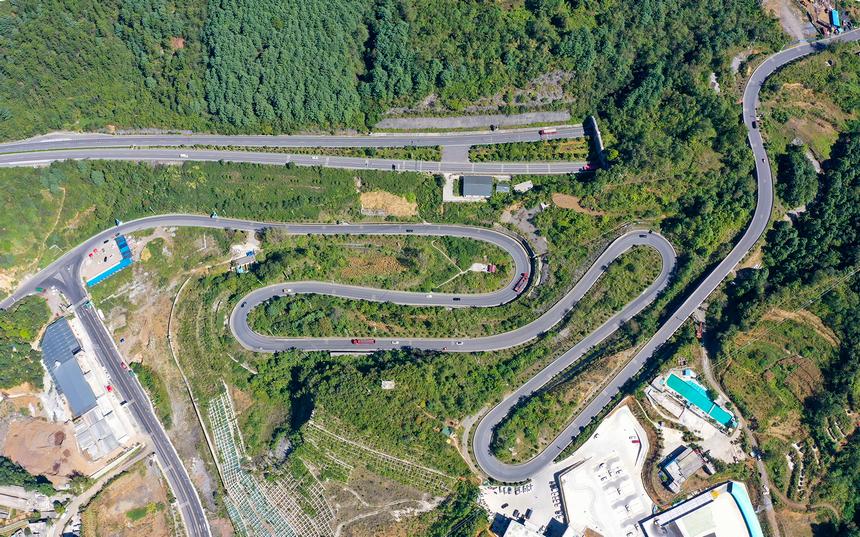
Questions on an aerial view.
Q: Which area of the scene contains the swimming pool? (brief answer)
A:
bottom right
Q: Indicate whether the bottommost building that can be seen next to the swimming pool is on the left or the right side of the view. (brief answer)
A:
right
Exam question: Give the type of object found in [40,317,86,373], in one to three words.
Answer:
shed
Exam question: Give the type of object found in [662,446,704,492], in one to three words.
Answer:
house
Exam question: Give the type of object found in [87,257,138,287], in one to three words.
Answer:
building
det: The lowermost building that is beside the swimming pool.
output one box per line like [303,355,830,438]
[638,477,763,537]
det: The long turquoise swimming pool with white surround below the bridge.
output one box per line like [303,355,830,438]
[653,367,737,437]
